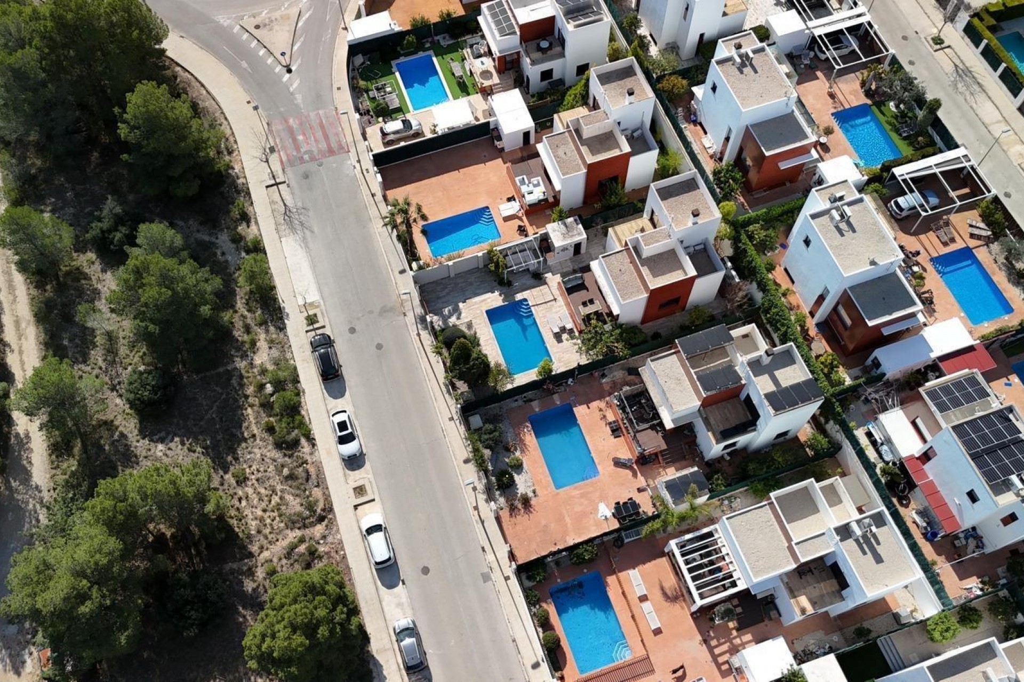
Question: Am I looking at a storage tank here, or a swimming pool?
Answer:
swimming pool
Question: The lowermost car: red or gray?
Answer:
gray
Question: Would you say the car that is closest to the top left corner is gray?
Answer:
Yes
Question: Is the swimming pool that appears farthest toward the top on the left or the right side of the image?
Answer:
right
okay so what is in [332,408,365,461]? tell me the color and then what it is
white car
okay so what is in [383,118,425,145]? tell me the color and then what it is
gray car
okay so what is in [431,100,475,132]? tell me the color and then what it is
white gazebo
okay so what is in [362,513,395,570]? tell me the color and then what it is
white car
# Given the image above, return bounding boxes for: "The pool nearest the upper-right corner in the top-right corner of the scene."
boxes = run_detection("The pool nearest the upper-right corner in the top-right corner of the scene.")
[994,27,1024,75]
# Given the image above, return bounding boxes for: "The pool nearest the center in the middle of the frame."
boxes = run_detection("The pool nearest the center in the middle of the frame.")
[483,295,556,378]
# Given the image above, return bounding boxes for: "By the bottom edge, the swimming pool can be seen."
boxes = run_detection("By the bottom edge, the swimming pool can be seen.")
[548,569,635,677]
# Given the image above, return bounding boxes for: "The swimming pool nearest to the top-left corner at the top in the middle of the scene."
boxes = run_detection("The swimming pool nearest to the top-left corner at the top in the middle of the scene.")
[390,47,457,115]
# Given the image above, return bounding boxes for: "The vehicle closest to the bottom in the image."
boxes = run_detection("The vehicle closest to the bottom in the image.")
[392,615,428,676]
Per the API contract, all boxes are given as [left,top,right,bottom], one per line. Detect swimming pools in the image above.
[421,204,502,258]
[994,27,1024,75]
[527,401,602,491]
[831,101,904,167]
[548,569,635,677]
[390,47,457,115]
[929,244,1015,327]
[483,295,556,378]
